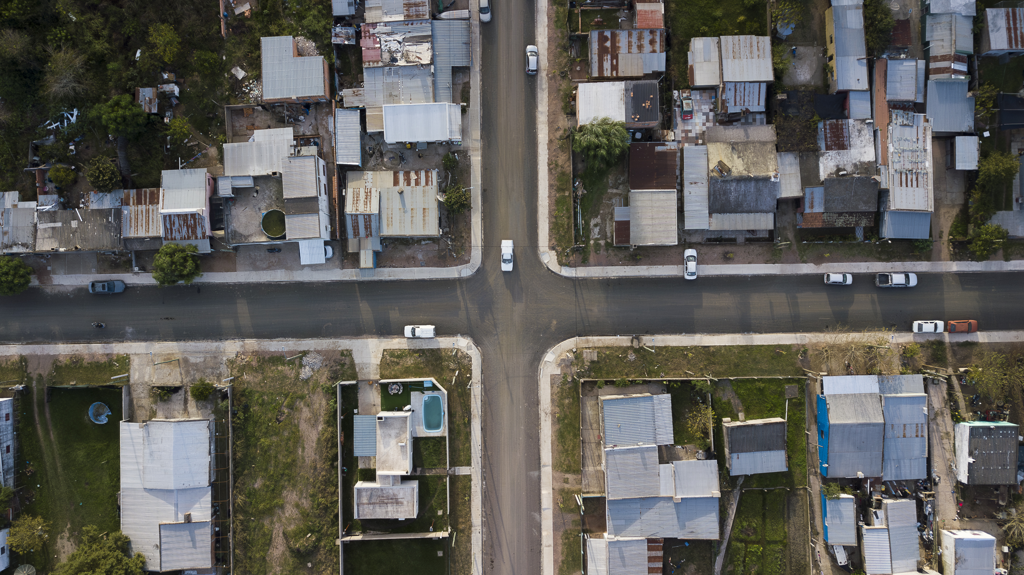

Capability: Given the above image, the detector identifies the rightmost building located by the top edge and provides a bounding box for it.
[974,8,1024,56]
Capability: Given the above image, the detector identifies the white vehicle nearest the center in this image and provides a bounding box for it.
[500,239,513,272]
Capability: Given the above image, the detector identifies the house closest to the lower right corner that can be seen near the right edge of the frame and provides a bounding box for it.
[941,530,997,575]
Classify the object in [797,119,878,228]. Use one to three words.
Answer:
house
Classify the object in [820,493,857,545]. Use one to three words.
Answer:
shed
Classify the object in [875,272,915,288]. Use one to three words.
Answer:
vehicle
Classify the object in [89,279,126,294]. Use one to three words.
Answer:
car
